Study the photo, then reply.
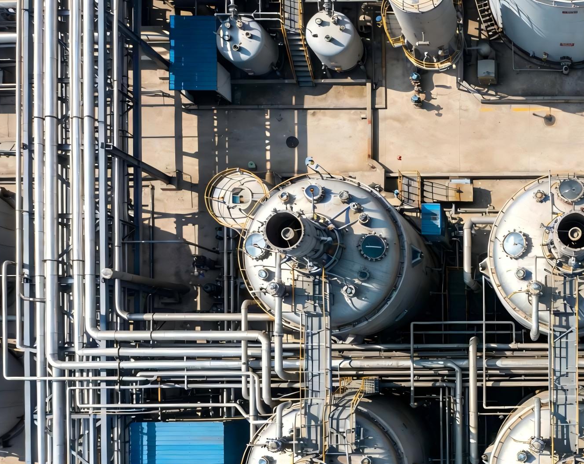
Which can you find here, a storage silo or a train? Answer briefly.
storage silo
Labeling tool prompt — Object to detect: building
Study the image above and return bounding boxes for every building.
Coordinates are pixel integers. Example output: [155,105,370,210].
[129,417,262,464]
[170,15,231,102]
